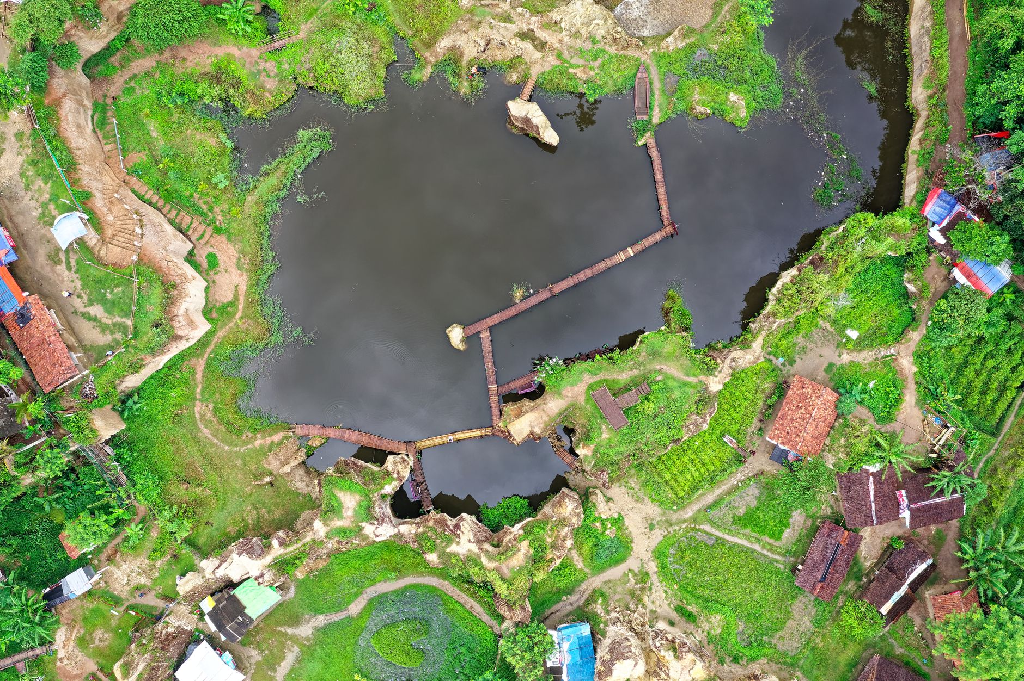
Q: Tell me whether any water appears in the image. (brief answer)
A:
Yes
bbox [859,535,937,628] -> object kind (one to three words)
house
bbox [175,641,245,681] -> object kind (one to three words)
building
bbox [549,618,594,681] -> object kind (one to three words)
house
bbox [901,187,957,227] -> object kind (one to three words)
shed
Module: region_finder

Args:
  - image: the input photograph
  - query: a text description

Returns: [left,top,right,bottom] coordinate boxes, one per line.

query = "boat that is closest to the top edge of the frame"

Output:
[635,56,650,120]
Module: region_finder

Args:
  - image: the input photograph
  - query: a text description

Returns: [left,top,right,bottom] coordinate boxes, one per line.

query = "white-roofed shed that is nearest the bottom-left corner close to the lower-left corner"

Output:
[44,566,109,609]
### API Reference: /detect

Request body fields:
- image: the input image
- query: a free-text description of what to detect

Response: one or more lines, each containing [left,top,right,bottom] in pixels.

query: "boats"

[671,221,680,235]
[635,56,650,120]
